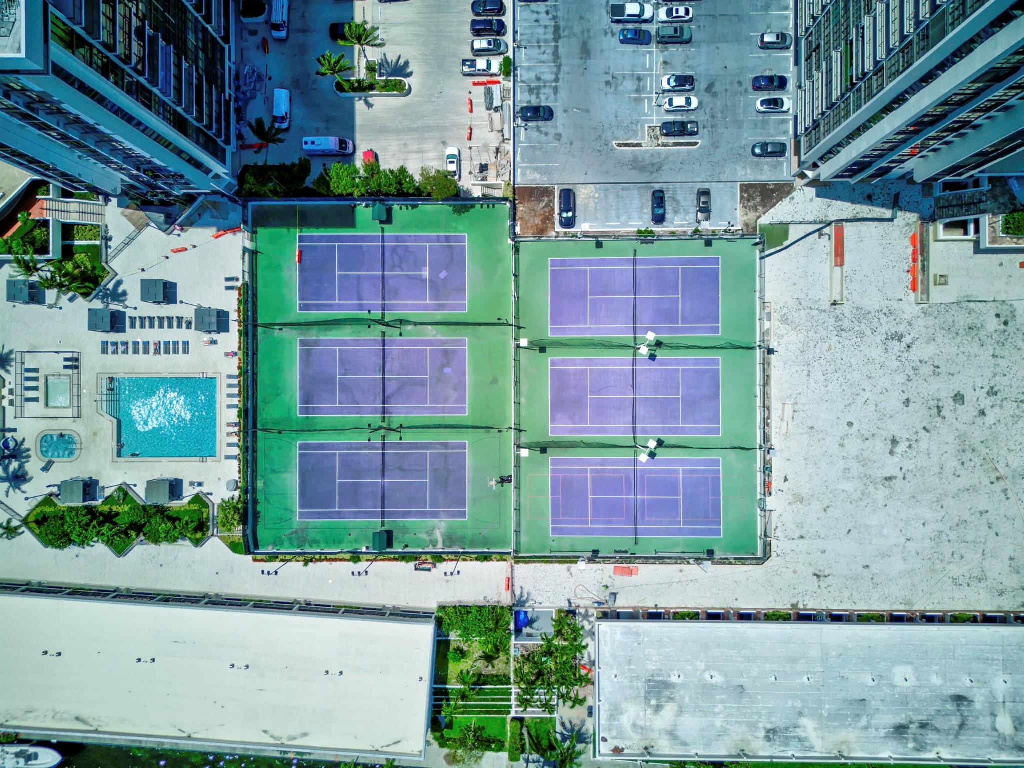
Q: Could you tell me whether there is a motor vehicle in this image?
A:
Yes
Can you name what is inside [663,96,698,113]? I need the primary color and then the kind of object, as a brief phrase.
white car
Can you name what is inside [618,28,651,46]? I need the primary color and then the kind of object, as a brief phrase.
blue car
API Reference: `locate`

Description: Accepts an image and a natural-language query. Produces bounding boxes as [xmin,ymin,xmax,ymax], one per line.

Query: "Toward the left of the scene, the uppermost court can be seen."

[298,225,467,320]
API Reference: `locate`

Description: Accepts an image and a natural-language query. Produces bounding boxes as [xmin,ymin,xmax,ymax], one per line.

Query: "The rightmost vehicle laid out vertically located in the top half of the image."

[695,188,712,224]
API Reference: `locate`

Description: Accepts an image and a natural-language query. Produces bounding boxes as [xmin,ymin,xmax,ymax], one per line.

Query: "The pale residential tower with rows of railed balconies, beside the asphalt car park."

[795,0,1024,182]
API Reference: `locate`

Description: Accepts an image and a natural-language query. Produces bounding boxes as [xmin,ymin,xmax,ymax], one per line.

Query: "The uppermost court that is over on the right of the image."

[548,248,721,343]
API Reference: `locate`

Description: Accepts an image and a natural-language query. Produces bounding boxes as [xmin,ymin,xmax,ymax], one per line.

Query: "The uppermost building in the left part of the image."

[0,0,238,199]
